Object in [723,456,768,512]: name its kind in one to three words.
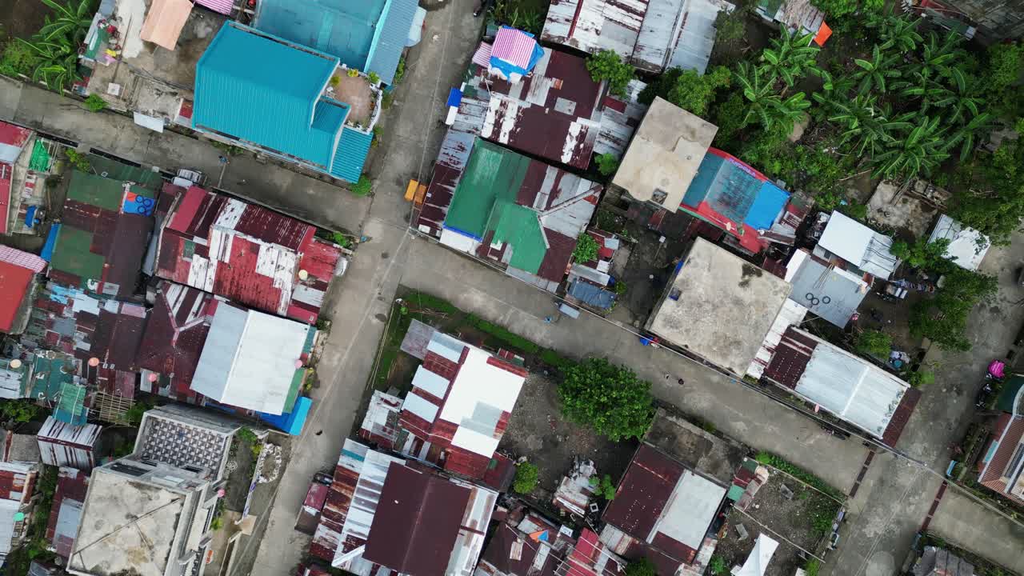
shed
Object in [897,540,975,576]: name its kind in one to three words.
house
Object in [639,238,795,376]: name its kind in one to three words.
house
